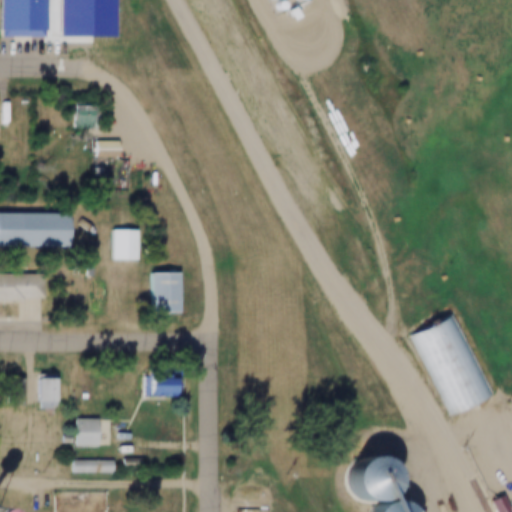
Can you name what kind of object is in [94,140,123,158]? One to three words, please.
building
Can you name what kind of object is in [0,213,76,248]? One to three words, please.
shed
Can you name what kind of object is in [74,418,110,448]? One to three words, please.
house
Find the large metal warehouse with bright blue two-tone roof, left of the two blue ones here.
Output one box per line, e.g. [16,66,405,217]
[2,0,48,37]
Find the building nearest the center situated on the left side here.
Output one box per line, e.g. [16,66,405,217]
[150,272,183,314]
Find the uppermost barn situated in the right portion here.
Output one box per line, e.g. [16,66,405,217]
[412,314,492,416]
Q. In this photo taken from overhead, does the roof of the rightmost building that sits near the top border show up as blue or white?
blue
